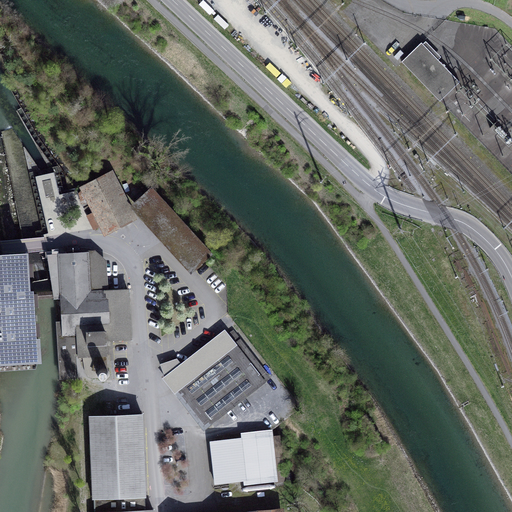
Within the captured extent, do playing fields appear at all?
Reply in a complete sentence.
No, no playing field is visible in the scene.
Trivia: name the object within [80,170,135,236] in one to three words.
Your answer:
barn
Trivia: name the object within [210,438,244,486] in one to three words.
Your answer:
building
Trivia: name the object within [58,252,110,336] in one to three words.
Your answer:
building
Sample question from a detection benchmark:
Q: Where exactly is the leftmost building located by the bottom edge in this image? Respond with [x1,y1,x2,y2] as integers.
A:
[89,414,148,500]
